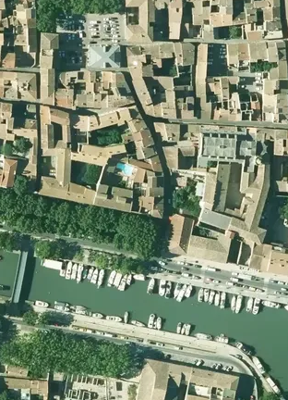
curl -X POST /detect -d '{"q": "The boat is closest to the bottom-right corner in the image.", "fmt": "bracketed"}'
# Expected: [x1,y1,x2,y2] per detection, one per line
[264,374,282,395]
